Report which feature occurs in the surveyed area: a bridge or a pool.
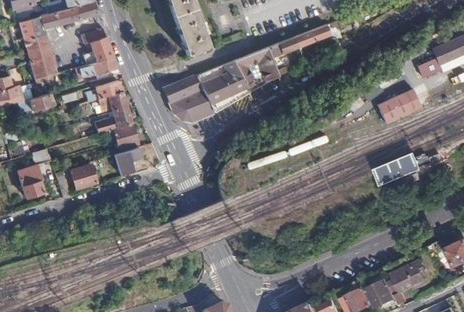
bridge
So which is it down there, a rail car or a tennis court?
rail car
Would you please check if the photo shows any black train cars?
No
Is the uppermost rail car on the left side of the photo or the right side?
right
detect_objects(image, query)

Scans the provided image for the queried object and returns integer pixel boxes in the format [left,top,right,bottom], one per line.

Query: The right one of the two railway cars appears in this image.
[286,136,329,156]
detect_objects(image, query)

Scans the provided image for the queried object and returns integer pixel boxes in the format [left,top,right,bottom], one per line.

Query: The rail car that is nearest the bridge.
[245,152,288,170]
